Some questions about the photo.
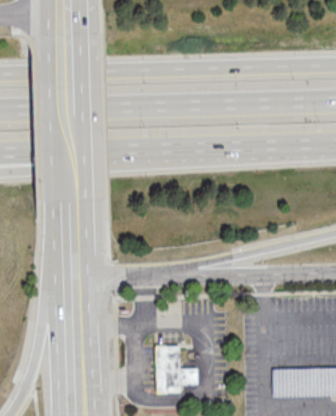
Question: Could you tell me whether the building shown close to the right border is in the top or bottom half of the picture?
bottom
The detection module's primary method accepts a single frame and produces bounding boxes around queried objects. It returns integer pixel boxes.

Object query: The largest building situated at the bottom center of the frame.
[156,345,199,395]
